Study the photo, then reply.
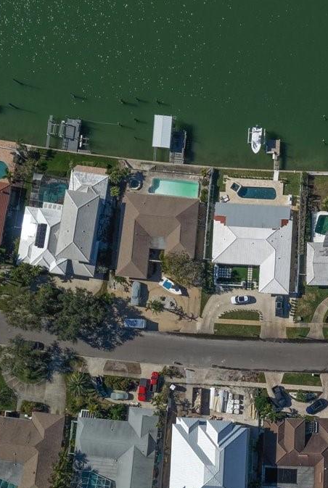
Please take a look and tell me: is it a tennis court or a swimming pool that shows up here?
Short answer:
swimming pool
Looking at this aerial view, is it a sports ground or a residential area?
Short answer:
residential area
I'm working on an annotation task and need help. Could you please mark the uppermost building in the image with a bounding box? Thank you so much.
[152,113,176,150]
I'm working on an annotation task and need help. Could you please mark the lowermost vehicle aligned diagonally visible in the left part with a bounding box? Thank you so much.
[91,376,109,397]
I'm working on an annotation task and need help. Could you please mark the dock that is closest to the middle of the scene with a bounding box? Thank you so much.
[167,132,185,163]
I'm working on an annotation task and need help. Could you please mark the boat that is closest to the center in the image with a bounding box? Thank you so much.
[158,277,182,292]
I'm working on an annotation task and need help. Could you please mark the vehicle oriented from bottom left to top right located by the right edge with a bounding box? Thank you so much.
[309,398,327,413]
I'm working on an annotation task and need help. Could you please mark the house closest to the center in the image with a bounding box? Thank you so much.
[116,193,200,278]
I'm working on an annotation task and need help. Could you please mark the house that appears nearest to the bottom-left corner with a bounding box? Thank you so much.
[0,411,67,488]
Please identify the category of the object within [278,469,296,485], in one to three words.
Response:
solar panel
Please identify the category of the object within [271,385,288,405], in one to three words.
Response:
vehicle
